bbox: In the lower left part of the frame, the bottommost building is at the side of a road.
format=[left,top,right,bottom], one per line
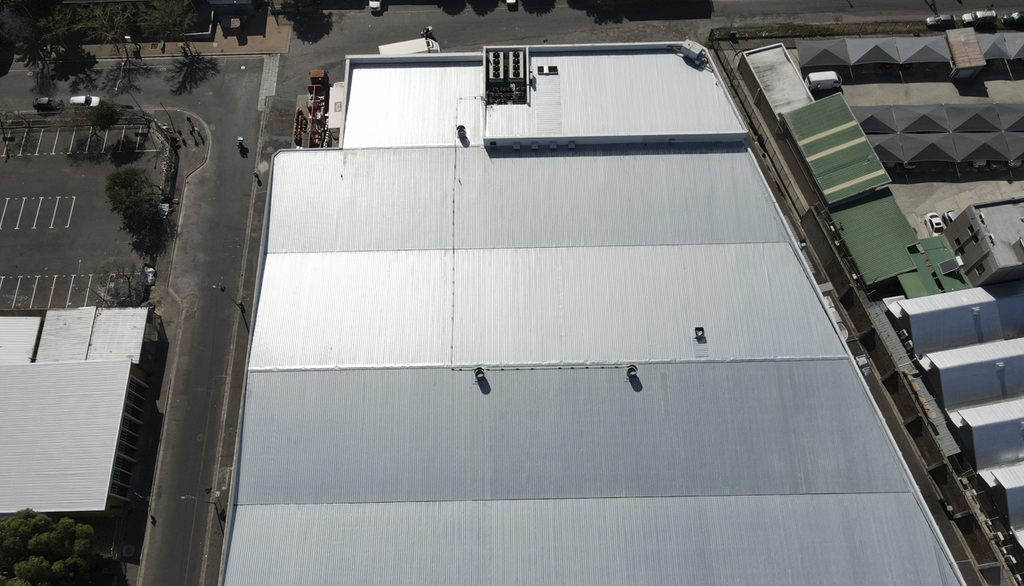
[0,358,147,515]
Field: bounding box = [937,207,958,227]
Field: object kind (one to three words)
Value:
car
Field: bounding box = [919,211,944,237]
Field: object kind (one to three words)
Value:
car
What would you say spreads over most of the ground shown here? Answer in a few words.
buildings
